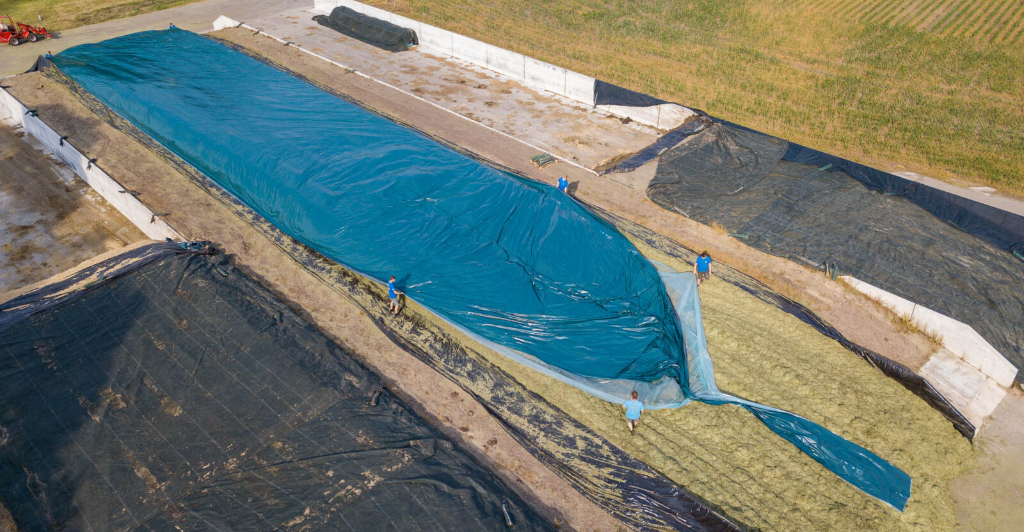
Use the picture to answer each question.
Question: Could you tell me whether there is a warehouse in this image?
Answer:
No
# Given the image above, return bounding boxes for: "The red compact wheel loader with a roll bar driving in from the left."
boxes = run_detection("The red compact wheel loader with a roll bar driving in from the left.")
[0,14,57,44]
